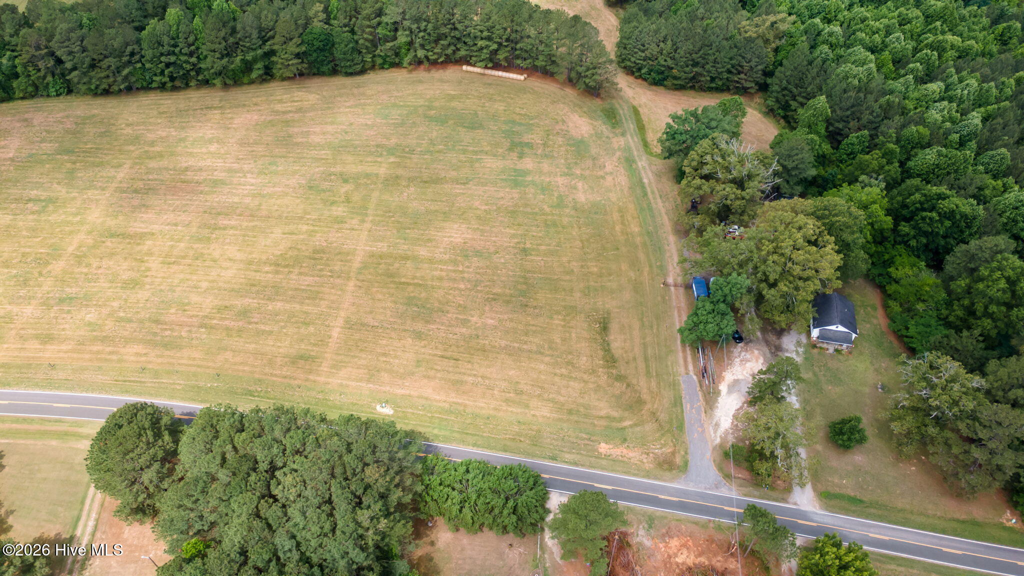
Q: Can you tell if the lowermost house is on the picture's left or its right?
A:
right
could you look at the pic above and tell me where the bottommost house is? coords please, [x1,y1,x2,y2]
[807,292,858,355]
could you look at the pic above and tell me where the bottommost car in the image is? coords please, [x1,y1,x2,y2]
[733,332,745,347]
